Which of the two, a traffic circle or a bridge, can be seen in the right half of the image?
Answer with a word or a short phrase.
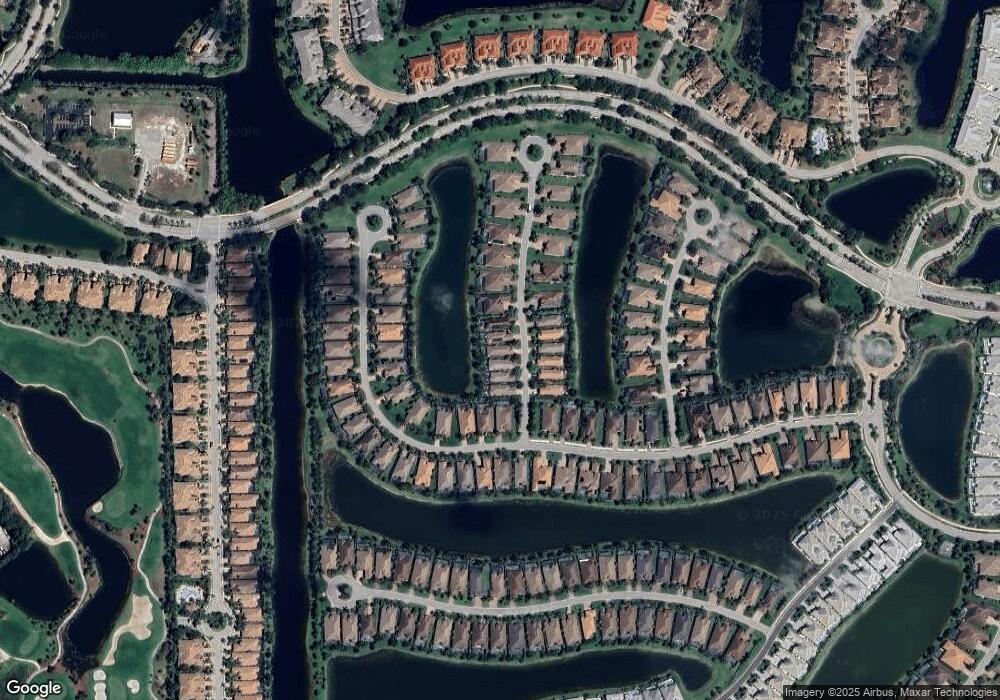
traffic circle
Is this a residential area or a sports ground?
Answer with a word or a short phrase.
residential area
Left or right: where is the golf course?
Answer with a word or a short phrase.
left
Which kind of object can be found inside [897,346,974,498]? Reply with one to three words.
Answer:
pond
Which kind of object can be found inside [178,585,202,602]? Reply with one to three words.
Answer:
swimming pool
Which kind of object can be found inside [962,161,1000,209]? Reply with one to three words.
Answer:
roundabout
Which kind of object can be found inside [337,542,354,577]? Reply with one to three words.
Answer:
house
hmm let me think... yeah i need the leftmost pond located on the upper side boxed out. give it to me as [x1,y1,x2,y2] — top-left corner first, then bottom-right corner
[0,167,124,253]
